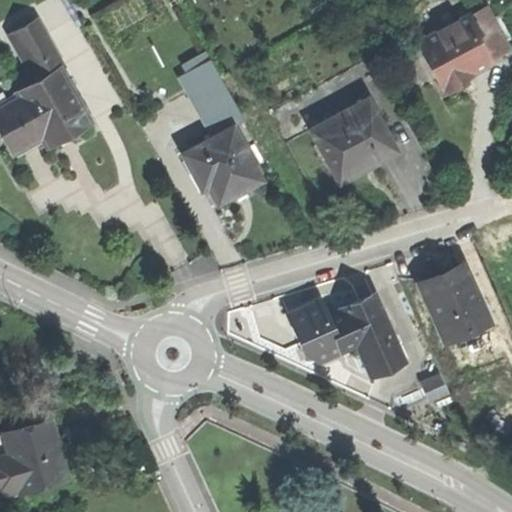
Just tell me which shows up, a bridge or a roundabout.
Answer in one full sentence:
This aerial view contains a roundabout.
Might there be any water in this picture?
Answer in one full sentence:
No, the picture contains no water.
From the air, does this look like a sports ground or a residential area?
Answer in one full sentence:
The area seen from above is a residential area.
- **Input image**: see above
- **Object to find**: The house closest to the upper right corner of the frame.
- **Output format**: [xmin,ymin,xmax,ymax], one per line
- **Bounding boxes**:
[422,6,511,96]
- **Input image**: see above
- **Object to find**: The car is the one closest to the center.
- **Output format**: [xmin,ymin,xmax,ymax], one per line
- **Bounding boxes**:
[316,270,336,282]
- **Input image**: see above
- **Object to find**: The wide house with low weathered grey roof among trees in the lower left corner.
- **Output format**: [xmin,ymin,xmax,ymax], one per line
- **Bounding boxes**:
[0,422,72,503]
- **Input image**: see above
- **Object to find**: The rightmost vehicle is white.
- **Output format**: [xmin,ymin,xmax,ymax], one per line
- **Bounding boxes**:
[488,66,502,88]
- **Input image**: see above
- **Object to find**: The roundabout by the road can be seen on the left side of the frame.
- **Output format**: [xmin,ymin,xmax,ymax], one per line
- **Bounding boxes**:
[120,301,226,407]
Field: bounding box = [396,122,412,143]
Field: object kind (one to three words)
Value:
car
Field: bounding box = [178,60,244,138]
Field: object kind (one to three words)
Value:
building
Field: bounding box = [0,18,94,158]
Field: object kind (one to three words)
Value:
house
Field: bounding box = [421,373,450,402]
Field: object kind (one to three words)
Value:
house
